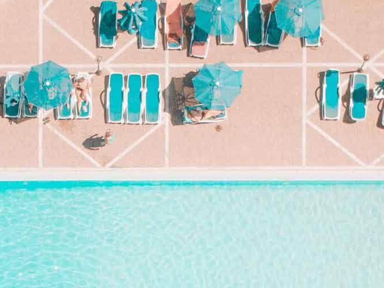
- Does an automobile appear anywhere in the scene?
No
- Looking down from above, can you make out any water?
Yes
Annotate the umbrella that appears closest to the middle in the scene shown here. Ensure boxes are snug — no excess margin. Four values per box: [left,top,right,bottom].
[194,58,242,106]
